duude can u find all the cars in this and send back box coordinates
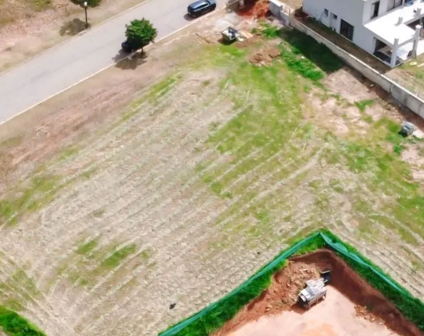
[120,38,152,55]
[185,0,216,19]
